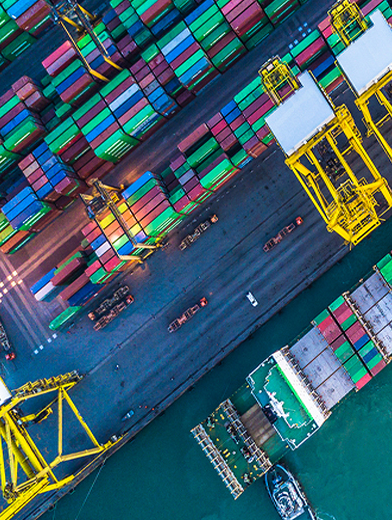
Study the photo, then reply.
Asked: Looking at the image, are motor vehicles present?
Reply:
Yes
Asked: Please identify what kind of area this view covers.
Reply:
port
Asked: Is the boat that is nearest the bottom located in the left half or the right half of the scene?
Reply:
right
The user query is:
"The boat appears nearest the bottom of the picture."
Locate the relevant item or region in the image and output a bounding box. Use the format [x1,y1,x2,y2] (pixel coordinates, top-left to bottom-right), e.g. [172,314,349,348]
[266,462,314,520]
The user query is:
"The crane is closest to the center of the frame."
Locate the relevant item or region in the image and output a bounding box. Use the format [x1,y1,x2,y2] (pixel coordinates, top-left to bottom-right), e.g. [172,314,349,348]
[75,173,161,267]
